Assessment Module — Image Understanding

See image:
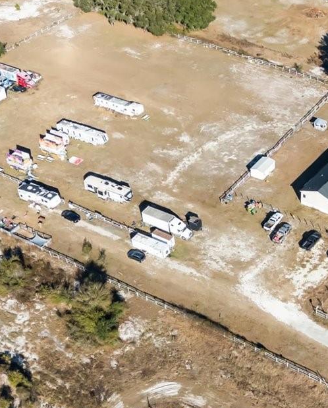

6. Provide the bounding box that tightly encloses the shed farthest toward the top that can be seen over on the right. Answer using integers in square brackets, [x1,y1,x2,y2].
[249,155,277,180]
